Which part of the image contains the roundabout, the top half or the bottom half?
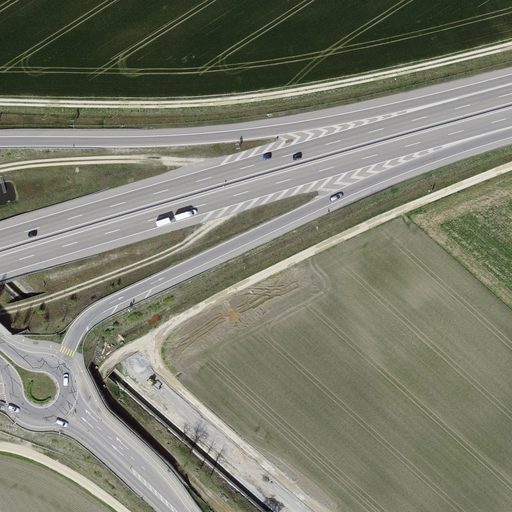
bottom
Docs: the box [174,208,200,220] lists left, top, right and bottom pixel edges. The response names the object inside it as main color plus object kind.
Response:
white vehicle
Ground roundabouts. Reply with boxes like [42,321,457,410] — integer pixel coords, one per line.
[0,323,200,512]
